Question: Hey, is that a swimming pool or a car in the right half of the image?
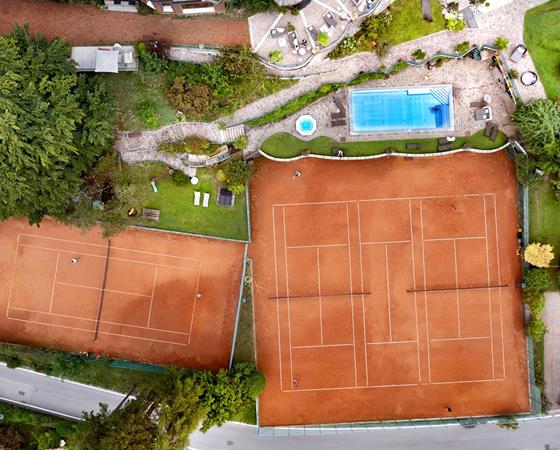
swimming pool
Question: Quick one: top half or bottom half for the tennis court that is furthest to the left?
bottom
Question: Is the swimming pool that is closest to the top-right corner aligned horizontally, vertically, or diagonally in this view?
horizontally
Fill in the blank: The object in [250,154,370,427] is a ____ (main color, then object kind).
orange tennis court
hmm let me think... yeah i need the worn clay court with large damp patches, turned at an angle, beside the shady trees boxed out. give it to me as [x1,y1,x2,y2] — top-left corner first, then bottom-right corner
[0,218,248,369]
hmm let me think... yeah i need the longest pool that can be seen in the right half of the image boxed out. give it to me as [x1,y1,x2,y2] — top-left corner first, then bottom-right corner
[349,85,454,136]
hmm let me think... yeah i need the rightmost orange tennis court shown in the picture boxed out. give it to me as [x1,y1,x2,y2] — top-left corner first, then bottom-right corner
[407,145,531,418]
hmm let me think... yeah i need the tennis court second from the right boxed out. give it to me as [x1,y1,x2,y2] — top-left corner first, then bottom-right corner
[355,156,422,421]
